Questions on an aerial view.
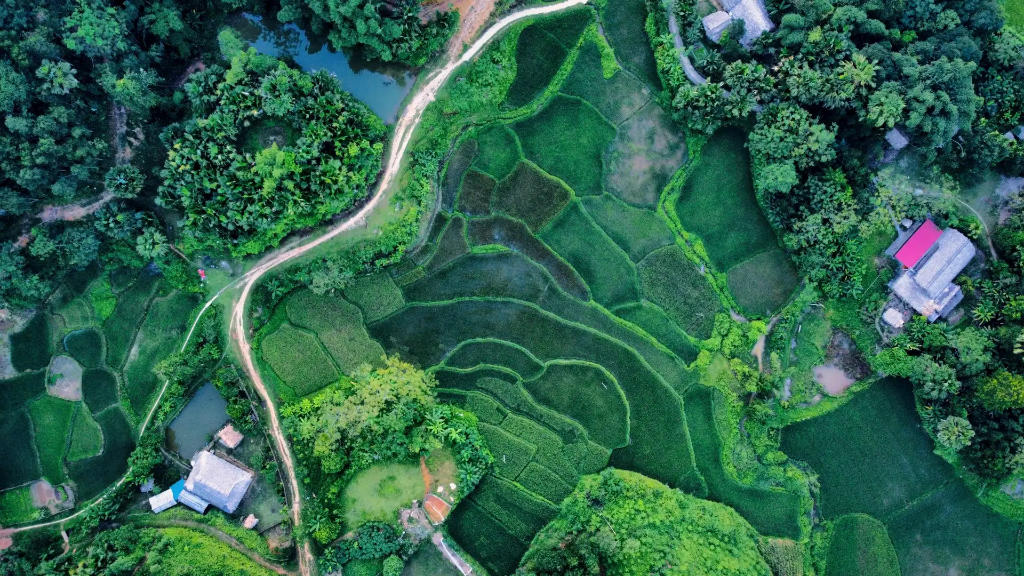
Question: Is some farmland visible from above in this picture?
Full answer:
Yes, there is farmland in the image.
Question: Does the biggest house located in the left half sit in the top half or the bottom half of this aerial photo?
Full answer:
You can find the biggest house located in the left half in the bottom half.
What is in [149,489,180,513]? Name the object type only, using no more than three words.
shed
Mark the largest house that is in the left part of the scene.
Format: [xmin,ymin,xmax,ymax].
[184,450,254,514]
